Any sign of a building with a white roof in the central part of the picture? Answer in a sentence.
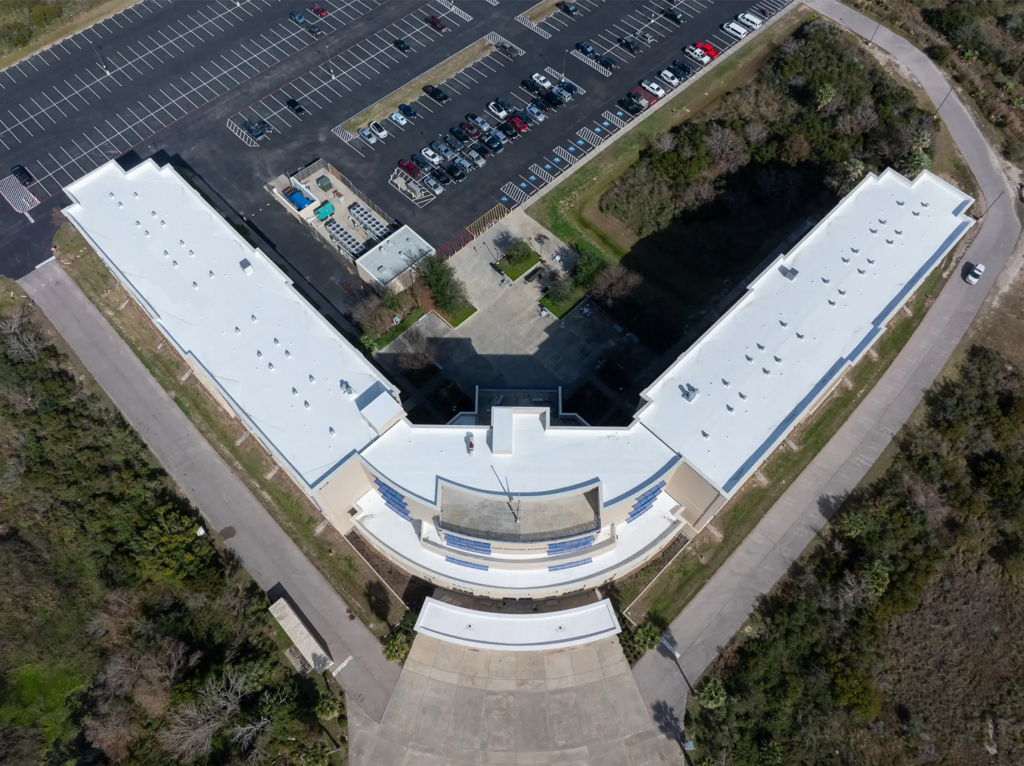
Yes, you'll find a building with a white roof in the central part of the picture.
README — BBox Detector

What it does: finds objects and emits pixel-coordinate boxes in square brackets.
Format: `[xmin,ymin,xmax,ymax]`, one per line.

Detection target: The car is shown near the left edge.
[12,167,32,185]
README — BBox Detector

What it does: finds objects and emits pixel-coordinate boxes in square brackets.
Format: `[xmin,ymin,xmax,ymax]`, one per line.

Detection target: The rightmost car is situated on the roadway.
[966,262,986,285]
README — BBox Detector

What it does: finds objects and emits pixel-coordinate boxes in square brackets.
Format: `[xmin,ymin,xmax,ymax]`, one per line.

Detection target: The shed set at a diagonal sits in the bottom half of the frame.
[269,597,331,670]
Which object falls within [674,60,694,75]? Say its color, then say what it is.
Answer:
black car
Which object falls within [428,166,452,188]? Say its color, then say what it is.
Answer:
black truck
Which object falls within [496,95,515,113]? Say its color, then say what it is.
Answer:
black car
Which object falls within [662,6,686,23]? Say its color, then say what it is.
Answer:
black vehicle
